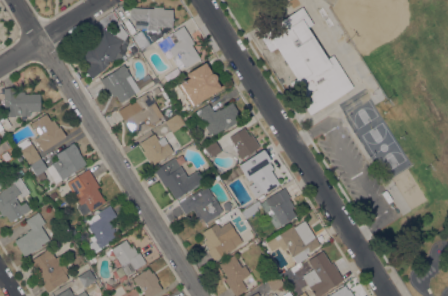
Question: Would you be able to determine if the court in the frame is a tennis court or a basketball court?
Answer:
basketball court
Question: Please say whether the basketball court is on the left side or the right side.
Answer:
right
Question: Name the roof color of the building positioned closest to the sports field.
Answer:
white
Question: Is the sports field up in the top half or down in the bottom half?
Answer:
top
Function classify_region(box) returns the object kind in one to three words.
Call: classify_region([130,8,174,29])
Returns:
house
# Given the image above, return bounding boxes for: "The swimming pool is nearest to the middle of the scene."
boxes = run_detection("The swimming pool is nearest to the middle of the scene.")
[214,156,234,168]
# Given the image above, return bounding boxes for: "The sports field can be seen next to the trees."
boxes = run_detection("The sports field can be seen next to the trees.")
[329,0,448,202]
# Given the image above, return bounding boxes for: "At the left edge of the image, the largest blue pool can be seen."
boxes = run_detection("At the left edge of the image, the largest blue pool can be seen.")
[14,125,33,142]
